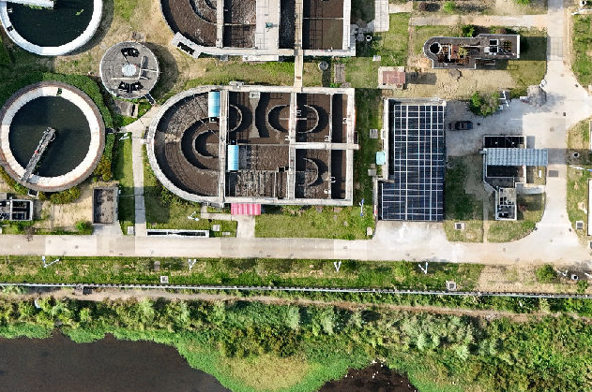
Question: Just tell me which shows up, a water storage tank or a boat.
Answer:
water storage tank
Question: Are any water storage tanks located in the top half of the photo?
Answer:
Yes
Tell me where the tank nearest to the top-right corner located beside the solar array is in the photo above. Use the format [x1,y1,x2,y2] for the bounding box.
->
[421,33,520,69]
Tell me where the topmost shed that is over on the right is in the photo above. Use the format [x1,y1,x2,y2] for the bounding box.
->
[379,67,406,89]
